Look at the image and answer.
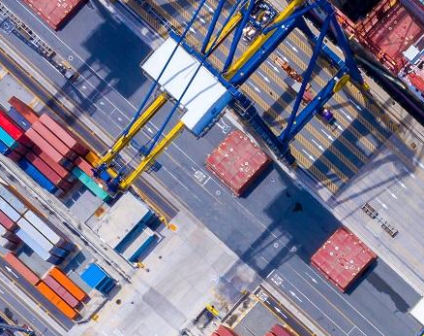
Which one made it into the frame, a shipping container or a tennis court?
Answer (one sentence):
Looking from above, you can make out a shipping container.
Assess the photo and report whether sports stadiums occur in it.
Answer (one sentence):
No, I find no sports stadium anywhere in the image.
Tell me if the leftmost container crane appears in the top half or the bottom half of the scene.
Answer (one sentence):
The leftmost container crane is in the top half of the image.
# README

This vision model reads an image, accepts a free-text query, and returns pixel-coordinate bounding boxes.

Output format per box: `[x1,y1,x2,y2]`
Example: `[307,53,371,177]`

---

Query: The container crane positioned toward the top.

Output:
[82,0,369,204]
